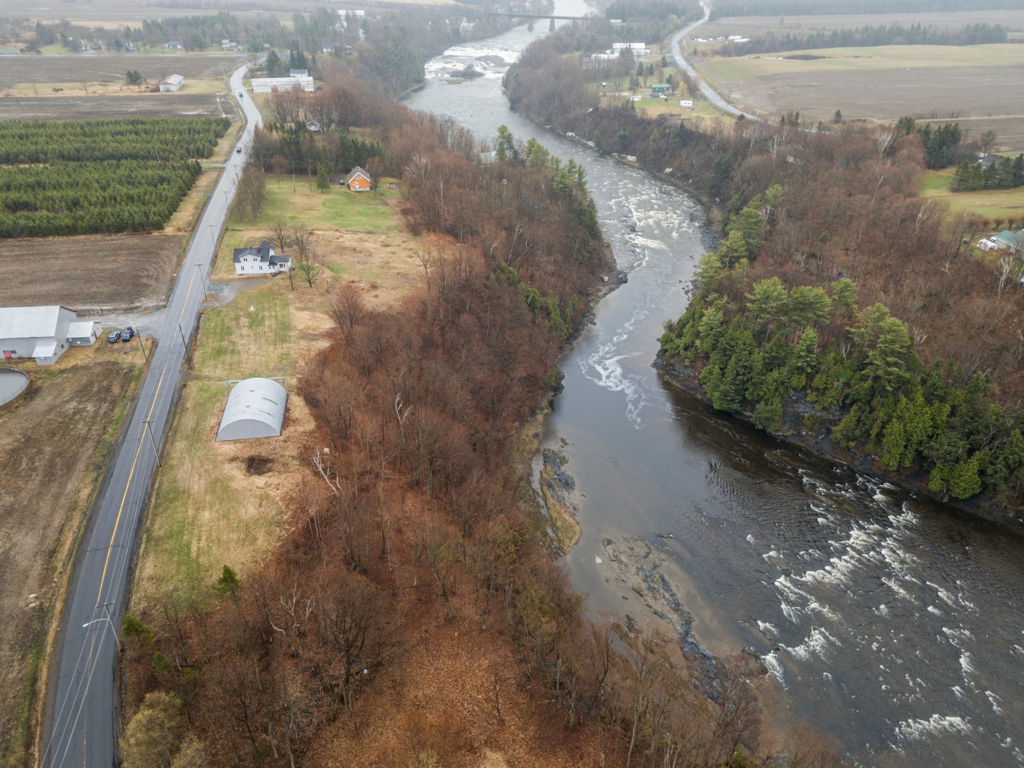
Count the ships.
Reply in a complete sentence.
Not a single ship can be seen.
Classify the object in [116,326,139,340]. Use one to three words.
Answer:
vehicle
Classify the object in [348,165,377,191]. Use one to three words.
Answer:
house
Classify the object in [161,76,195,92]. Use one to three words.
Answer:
barn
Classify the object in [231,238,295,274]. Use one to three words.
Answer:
house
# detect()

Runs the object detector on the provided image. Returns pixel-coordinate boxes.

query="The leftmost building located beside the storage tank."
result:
[0,305,84,365]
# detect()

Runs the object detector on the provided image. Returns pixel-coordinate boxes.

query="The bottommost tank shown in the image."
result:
[0,365,29,419]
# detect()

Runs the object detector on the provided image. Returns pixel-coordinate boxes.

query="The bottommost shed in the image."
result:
[215,376,297,441]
